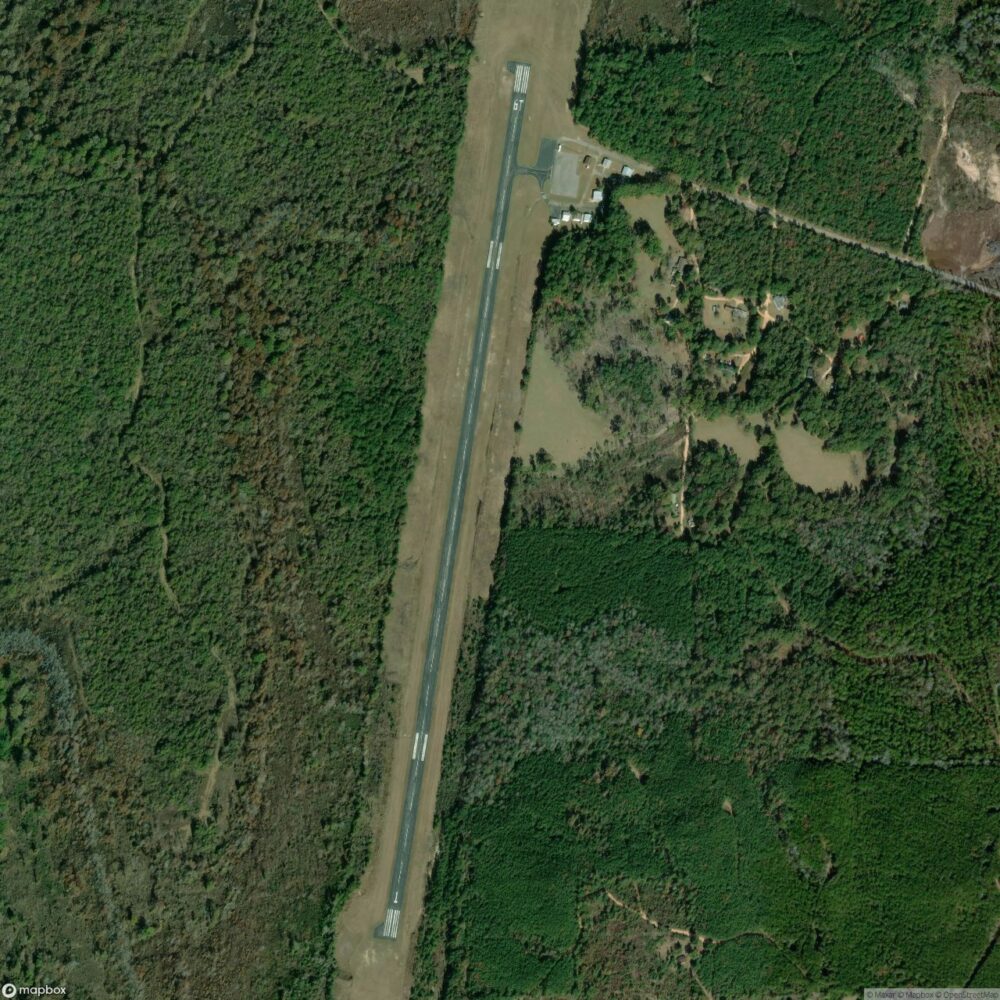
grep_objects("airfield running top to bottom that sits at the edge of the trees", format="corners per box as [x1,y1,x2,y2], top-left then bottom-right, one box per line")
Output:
[374,59,606,942]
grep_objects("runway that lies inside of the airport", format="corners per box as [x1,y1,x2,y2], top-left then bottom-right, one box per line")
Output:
[384,62,530,939]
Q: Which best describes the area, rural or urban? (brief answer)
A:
rural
